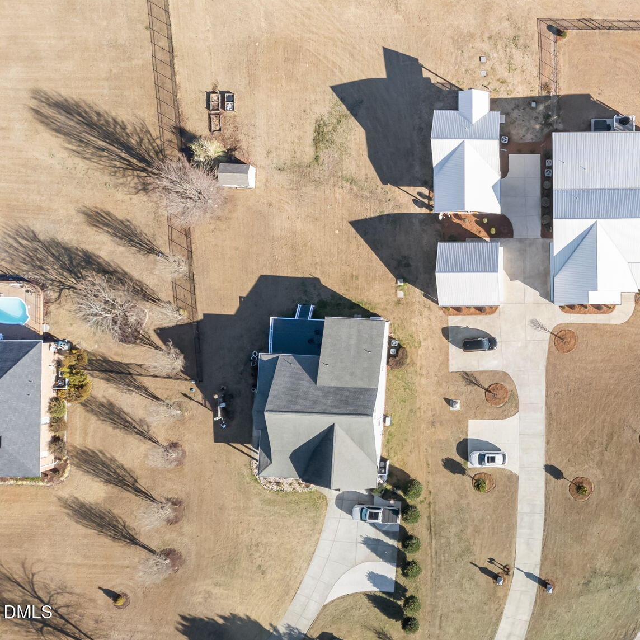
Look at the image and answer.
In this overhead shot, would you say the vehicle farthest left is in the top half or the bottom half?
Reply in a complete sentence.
The vehicle farthest left sits in the bottom half of the picture.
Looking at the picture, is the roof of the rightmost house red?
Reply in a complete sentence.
No, from above the roof of the rightmost house looks white.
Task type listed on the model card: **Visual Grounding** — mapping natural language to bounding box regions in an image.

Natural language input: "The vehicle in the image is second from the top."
[470,450,507,468]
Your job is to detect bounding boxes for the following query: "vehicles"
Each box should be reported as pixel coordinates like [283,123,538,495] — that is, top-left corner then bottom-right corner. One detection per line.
[352,503,399,524]
[470,450,507,468]
[462,335,496,351]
